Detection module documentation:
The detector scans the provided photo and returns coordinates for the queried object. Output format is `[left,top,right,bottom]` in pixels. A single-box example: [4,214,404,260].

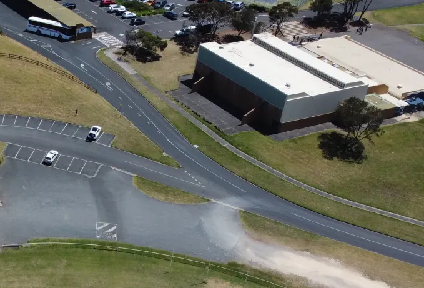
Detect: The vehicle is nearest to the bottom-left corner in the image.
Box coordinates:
[42,150,59,163]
